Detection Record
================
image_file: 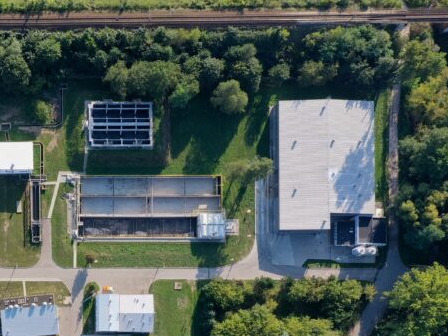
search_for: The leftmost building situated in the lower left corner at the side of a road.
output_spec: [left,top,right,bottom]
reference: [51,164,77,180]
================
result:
[0,294,58,336]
